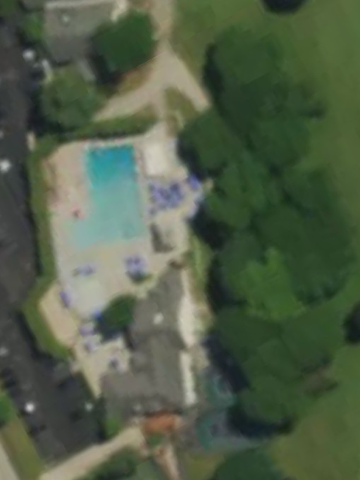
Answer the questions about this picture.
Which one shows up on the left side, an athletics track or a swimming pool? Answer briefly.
swimming pool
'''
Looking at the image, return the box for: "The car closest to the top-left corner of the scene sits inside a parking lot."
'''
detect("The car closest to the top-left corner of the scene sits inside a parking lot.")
[21,45,35,65]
